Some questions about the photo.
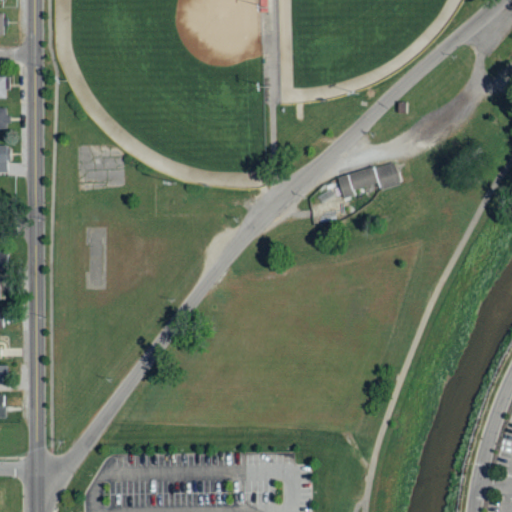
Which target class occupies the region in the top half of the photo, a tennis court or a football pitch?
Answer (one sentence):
It is a tennis court that can be seen in the top half of the photo.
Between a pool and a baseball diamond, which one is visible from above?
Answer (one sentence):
It is a baseball diamond that can be seen here.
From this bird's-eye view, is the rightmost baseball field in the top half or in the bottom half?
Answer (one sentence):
You can find the rightmost baseball field in the top half.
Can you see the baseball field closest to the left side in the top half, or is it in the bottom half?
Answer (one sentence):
The baseball field closest to the left side is in the top half of the image.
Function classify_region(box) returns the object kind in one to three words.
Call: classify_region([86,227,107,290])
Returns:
basketball court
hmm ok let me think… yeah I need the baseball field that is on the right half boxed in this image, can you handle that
[278,0,464,104]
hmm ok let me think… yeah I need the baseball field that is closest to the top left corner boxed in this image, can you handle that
[54,0,264,189]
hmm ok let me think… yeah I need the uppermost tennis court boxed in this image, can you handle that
[78,144,125,191]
